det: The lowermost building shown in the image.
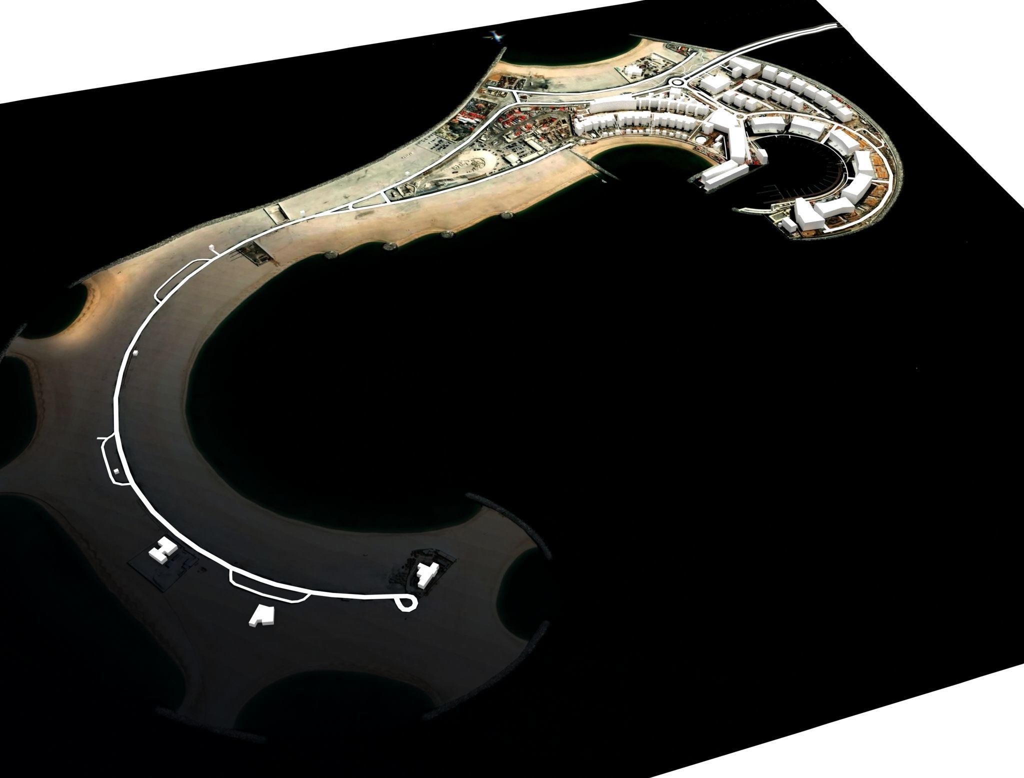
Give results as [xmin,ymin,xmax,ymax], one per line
[249,604,275,627]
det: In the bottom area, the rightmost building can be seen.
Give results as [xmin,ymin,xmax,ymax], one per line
[417,562,439,589]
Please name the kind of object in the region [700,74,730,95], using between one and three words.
building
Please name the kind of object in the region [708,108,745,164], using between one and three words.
building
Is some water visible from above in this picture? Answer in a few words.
Yes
